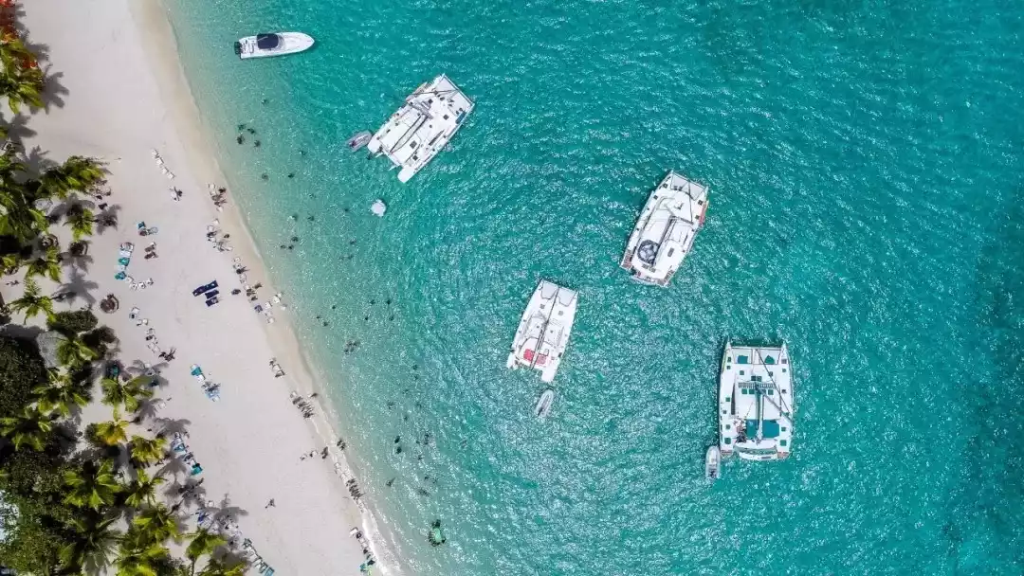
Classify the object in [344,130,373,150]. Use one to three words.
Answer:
boat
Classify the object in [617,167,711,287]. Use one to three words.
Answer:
boat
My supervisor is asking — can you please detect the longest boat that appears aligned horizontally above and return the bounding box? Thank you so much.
[233,32,314,59]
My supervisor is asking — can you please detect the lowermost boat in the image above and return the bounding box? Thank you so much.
[706,446,721,483]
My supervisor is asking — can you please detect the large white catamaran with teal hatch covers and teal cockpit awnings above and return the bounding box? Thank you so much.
[718,327,795,459]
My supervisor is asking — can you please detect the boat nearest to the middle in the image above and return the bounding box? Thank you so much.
[509,272,577,380]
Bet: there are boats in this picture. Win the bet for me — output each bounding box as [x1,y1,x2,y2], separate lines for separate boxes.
[370,73,474,181]
[233,32,314,59]
[706,446,721,483]
[718,327,795,459]
[509,272,577,380]
[534,389,551,420]
[344,130,373,150]
[617,167,711,287]
[701,201,707,225]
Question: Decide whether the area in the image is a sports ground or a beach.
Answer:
beach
